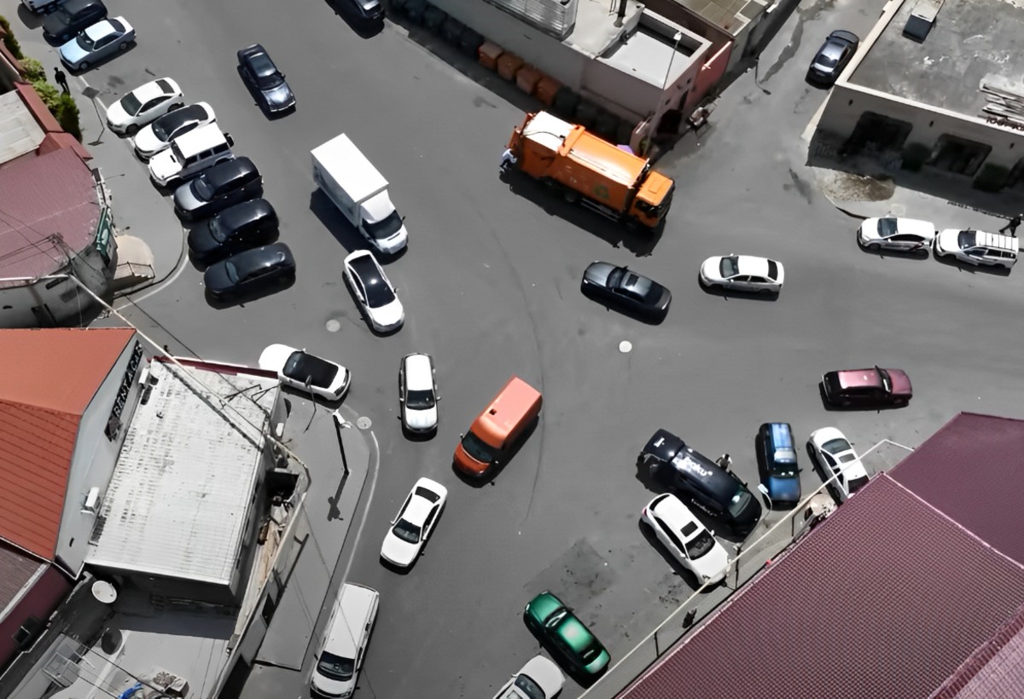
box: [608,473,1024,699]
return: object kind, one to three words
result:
building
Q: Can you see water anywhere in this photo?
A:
No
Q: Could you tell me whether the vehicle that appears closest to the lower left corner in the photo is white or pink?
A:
white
